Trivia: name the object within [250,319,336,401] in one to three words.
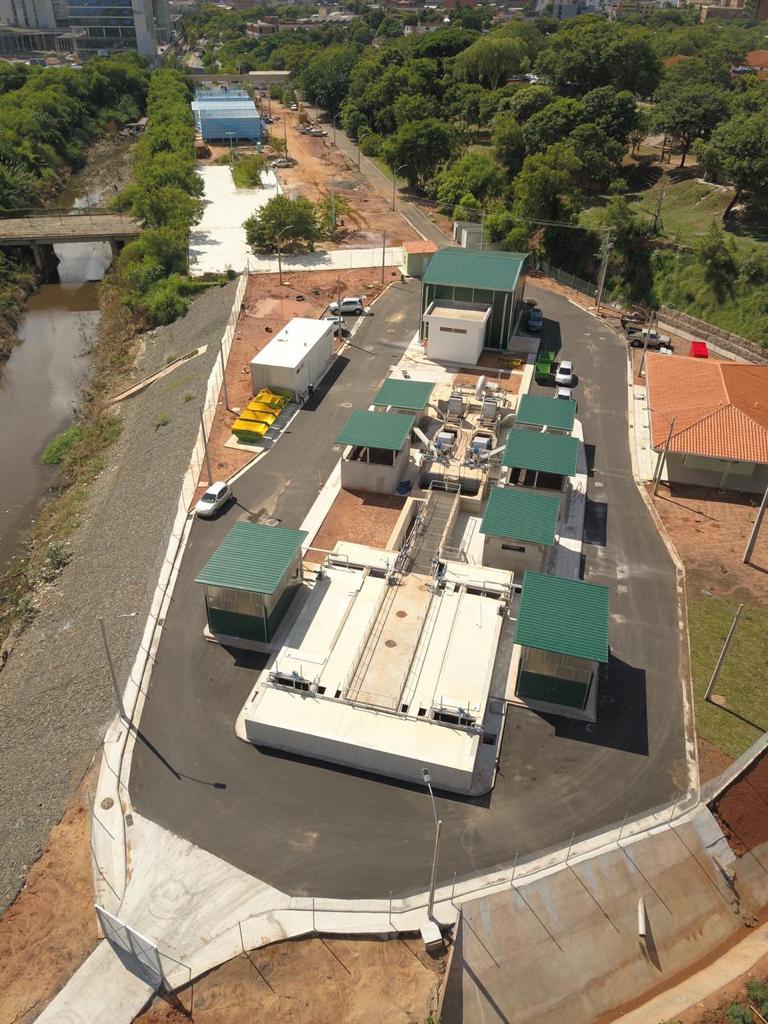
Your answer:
building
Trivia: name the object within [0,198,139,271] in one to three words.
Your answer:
bridge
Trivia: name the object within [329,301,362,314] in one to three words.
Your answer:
vehicle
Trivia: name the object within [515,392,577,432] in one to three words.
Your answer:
shed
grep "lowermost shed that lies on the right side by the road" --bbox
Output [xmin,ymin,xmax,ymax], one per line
[514,569,612,710]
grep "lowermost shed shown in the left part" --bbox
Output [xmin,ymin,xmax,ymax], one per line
[194,520,307,643]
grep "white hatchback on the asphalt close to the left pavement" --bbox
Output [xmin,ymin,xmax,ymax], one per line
[193,481,232,515]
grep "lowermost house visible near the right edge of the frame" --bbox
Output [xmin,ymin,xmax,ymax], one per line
[647,354,768,490]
